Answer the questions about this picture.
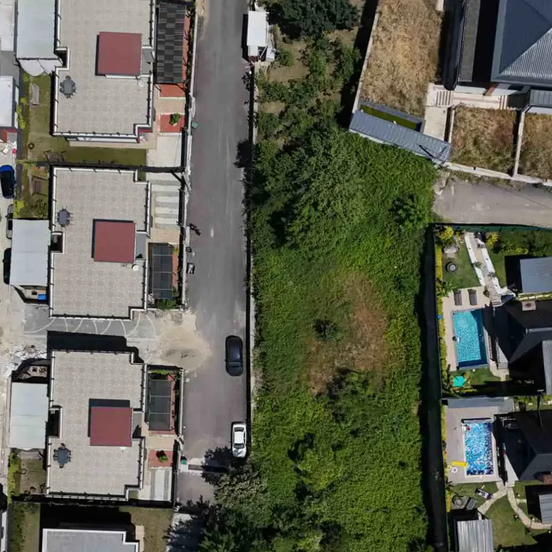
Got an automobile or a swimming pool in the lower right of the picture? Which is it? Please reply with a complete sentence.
The one visible in the lower right of the picture is a swimming pool.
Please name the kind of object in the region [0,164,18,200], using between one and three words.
car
